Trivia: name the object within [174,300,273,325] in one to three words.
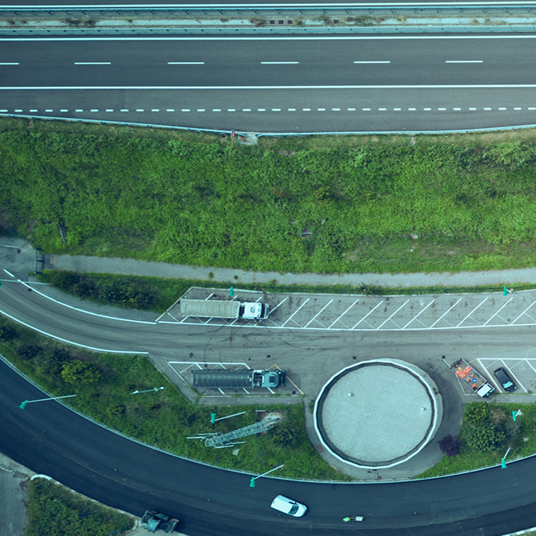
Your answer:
truck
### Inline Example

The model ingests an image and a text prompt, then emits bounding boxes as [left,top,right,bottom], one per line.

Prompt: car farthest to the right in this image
[494,368,515,395]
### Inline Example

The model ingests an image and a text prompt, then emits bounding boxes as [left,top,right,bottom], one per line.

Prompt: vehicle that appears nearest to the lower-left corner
[138,510,181,536]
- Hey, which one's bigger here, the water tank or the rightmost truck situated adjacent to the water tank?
the water tank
